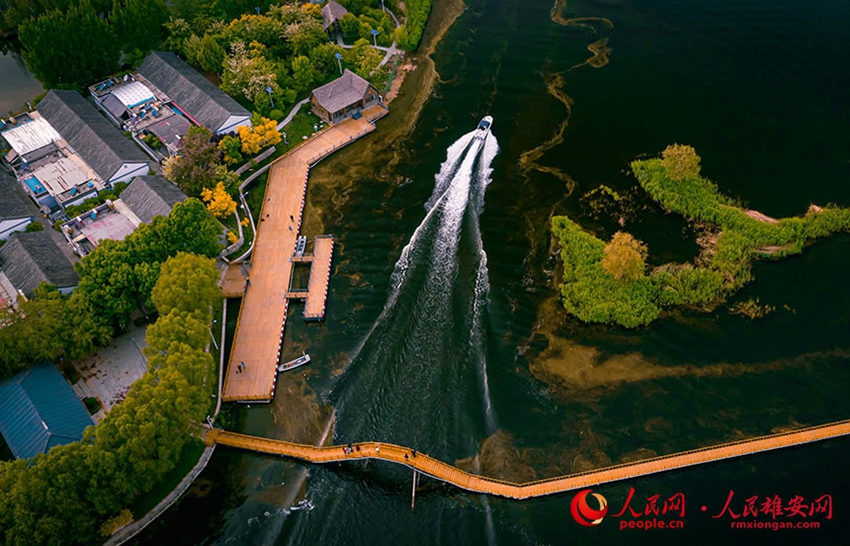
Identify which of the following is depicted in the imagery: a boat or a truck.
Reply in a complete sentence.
I can see a boat in this picture.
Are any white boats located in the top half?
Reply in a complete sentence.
Yes, there is a white boat in the top half.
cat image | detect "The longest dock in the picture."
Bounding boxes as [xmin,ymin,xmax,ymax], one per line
[222,100,389,404]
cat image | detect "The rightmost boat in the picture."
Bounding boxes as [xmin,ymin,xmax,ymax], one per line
[474,113,491,141]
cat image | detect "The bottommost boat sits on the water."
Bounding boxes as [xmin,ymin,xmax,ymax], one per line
[279,350,312,372]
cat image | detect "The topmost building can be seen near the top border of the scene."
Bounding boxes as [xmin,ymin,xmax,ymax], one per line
[318,0,352,37]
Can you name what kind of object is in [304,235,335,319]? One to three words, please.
pier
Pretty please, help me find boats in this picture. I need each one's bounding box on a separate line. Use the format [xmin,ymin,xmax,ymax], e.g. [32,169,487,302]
[297,236,308,255]
[474,113,491,141]
[279,350,312,372]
